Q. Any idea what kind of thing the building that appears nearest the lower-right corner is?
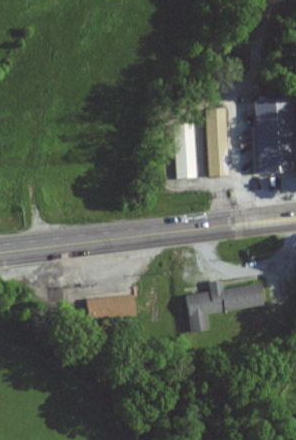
home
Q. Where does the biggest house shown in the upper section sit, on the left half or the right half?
right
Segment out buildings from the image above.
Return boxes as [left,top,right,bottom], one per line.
[206,108,228,178]
[253,102,296,174]
[86,296,136,320]
[186,280,262,332]
[175,122,198,180]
